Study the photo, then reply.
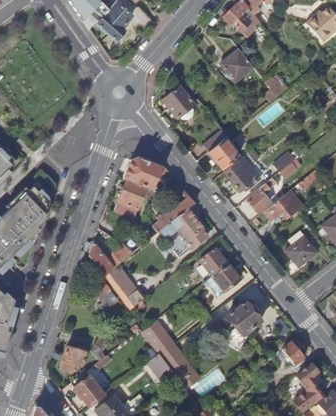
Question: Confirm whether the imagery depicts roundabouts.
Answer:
Yes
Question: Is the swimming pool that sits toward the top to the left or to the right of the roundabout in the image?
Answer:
to the right of it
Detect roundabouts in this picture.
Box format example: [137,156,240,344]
[89,53,168,157]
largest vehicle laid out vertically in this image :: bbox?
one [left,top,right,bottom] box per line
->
[52,280,66,310]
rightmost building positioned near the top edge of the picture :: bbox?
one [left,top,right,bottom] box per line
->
[306,4,336,41]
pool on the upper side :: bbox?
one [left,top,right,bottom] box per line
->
[257,103,285,126]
